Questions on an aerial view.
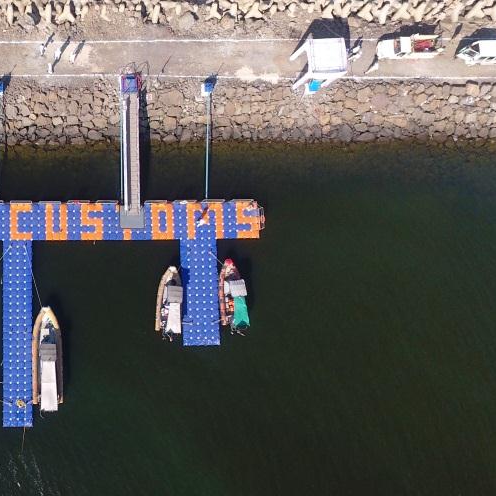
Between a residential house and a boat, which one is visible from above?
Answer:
boat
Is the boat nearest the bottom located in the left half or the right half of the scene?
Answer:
left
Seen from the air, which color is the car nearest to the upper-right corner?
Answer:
white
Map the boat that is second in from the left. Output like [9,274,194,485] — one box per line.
[153,266,186,337]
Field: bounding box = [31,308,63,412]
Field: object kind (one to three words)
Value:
boat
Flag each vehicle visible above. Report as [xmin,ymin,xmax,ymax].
[373,32,446,62]
[452,39,496,68]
